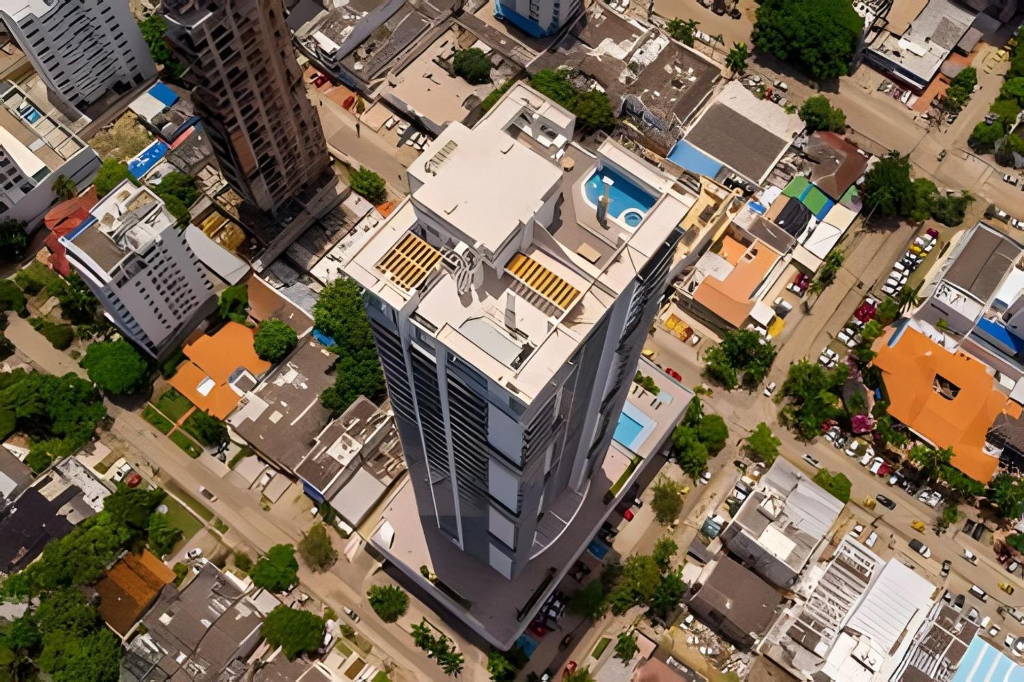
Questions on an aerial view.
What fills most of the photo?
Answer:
buildings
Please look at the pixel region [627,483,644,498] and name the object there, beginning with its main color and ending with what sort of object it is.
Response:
black car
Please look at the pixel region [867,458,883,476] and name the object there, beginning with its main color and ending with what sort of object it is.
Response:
white car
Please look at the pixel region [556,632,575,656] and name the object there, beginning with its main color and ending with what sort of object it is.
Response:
black car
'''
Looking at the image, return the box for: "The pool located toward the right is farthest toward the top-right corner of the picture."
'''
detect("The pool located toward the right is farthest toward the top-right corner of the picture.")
[583,163,659,227]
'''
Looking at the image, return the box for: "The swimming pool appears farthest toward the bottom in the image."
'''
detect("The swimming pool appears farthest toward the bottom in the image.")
[616,413,644,448]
